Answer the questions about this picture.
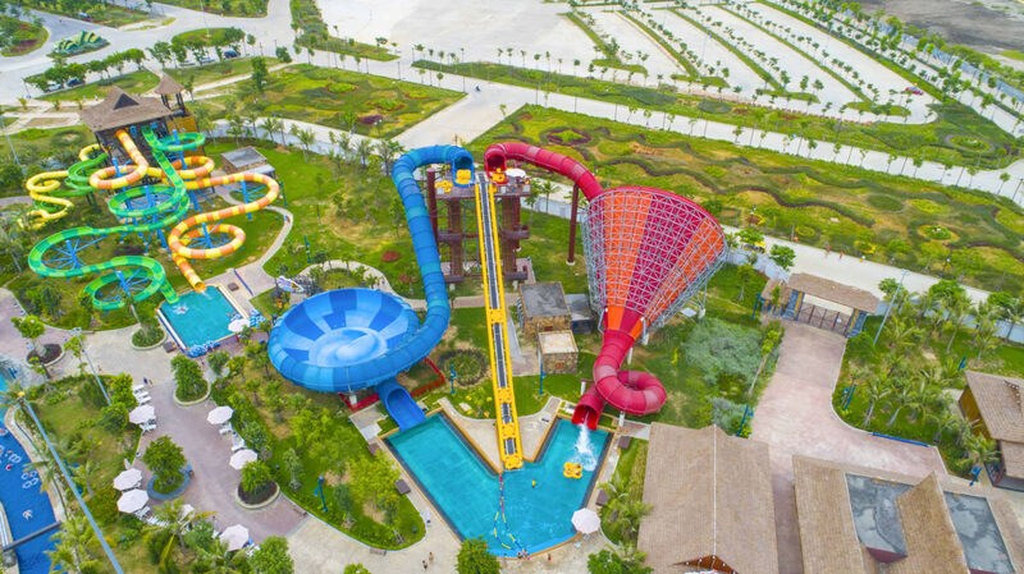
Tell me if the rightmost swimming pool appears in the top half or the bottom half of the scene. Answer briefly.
bottom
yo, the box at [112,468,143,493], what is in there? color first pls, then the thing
white umbrella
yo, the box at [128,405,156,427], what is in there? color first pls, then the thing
white umbrella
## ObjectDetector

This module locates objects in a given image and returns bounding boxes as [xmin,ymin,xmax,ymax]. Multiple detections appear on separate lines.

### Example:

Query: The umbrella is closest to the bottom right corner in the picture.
[571,509,602,540]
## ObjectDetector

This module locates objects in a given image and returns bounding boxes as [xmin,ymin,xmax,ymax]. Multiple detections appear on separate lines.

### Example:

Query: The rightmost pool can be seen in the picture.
[381,408,617,562]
